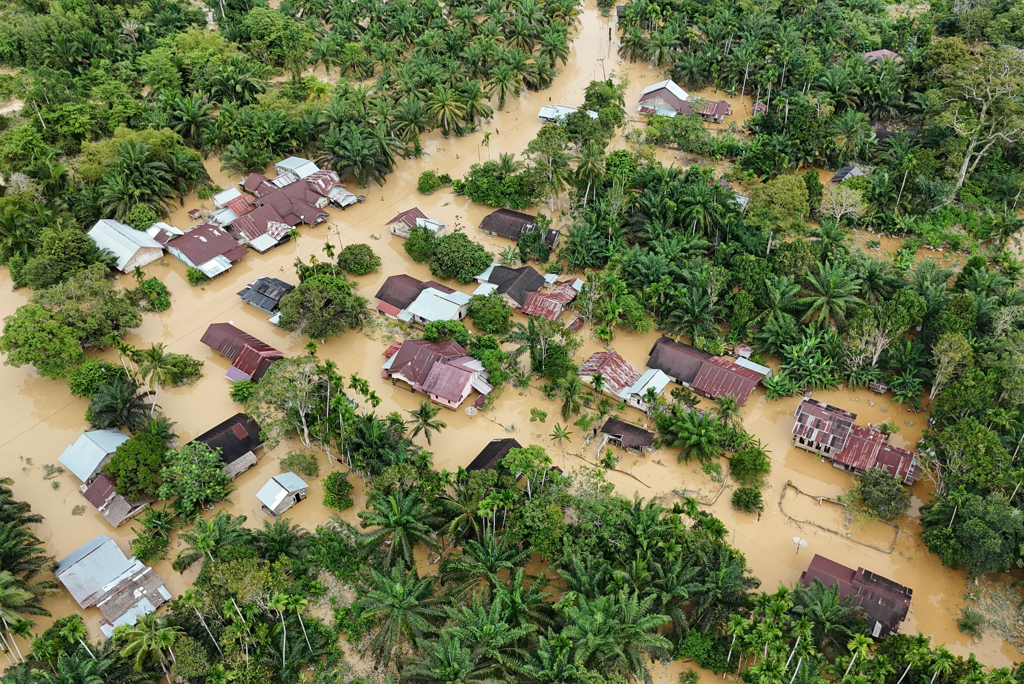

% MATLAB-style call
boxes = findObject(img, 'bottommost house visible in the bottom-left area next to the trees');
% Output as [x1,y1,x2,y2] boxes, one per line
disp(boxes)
[52,534,164,637]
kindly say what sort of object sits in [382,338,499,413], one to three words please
house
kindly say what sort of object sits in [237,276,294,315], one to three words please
house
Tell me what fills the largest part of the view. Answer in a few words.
trees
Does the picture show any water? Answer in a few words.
Yes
